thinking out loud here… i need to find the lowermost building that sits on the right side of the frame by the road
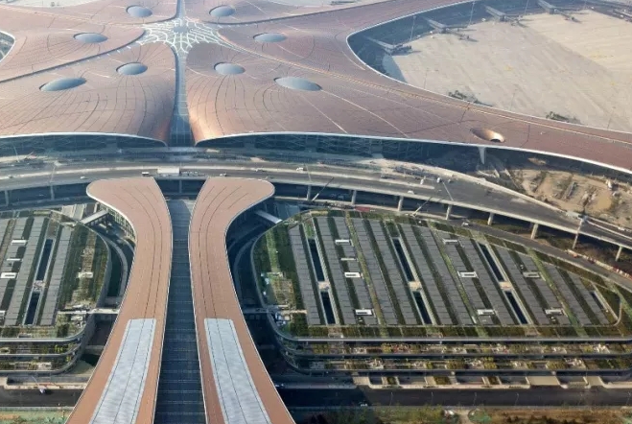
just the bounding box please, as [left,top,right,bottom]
[250,208,632,375]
